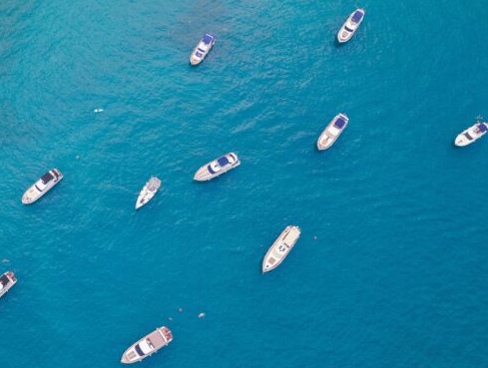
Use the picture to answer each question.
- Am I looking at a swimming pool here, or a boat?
boat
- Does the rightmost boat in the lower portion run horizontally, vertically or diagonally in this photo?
diagonally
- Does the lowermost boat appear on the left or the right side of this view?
left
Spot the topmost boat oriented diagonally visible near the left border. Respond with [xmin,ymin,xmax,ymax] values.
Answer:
[22,169,63,205]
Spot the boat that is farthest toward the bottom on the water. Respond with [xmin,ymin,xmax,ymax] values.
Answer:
[120,326,172,363]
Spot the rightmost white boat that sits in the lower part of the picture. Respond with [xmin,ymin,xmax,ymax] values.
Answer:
[261,224,300,275]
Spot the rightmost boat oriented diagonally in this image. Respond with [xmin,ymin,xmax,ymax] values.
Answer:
[454,121,488,146]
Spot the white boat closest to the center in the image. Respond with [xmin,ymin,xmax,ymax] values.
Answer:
[192,154,240,182]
